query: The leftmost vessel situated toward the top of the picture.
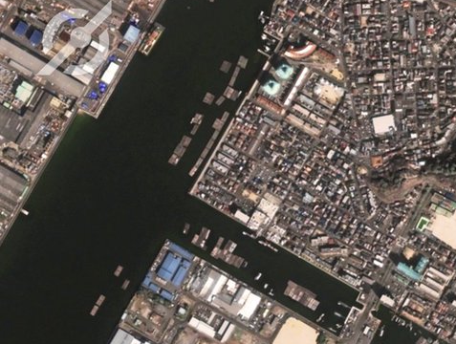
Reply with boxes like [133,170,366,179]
[141,26,161,55]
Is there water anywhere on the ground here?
Yes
